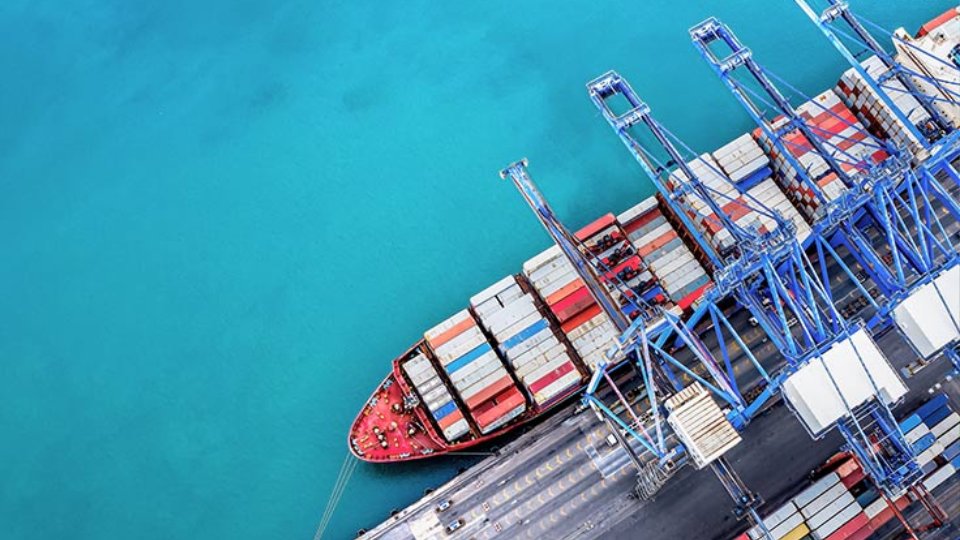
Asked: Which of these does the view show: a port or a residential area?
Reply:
port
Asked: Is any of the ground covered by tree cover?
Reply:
No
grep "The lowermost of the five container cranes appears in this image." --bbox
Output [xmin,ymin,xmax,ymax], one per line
[823,448,953,540]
